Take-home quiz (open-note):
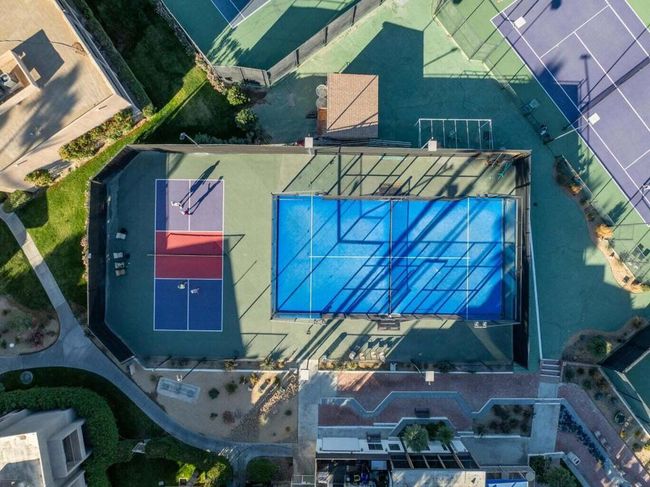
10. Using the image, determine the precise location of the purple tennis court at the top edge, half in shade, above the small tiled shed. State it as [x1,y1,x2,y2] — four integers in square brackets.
[168,0,381,83]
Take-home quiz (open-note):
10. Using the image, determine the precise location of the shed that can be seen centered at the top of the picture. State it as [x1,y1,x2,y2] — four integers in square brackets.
[326,74,378,143]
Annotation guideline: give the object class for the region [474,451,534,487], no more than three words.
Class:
building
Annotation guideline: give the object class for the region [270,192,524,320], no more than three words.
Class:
sports court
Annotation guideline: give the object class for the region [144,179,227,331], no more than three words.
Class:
sports court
